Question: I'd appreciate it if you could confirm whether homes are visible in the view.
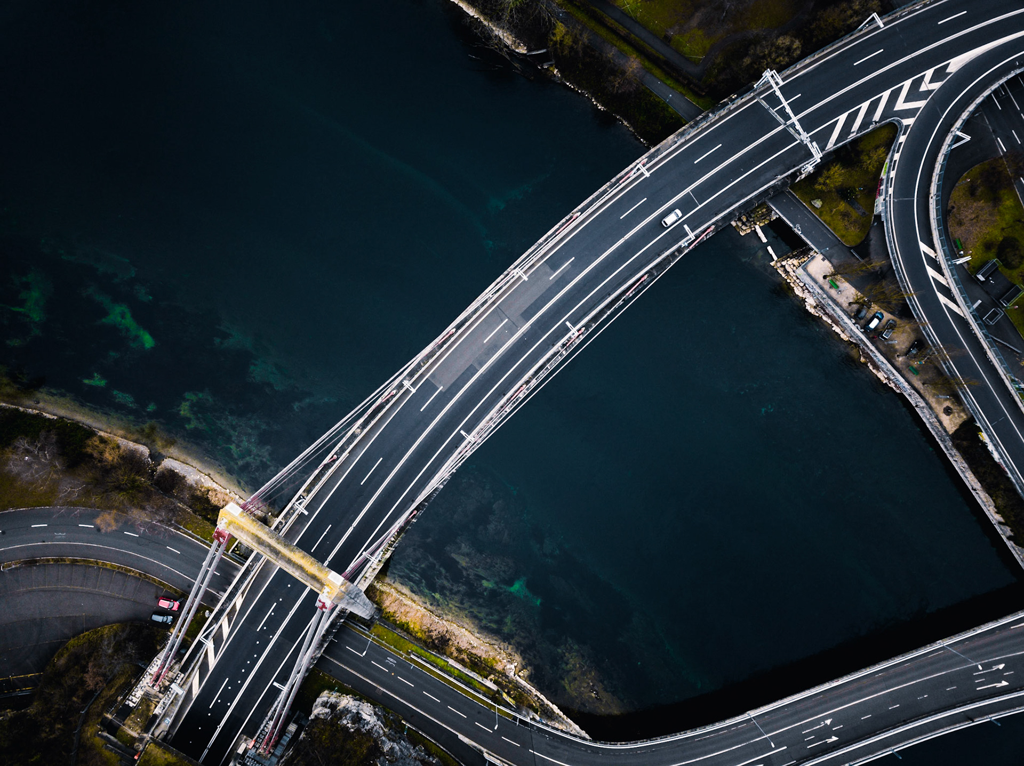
No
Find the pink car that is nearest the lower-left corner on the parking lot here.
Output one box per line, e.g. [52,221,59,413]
[155,598,178,612]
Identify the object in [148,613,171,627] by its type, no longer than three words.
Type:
car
